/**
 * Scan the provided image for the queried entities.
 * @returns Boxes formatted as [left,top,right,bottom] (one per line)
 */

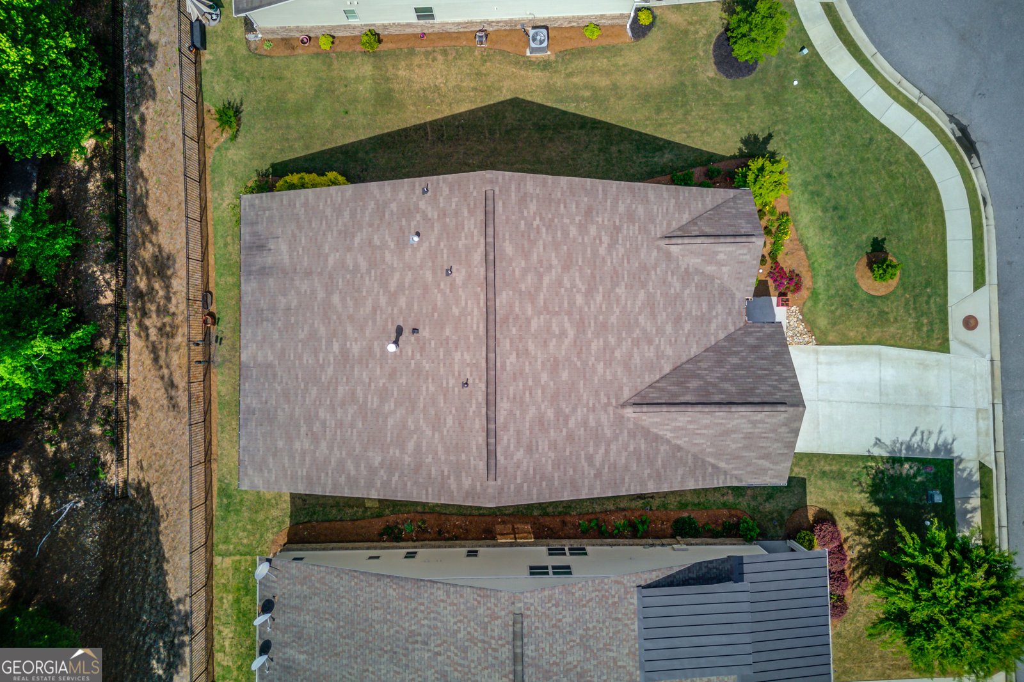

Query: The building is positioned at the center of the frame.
[238,171,807,511]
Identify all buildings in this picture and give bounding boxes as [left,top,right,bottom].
[238,171,807,511]
[253,539,831,682]
[227,0,658,40]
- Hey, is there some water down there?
No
